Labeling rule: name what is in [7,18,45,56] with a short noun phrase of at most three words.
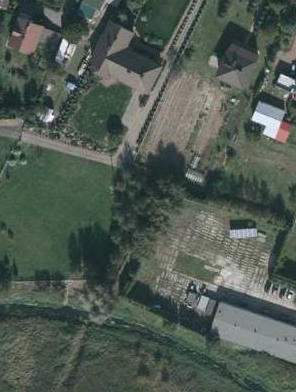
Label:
house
